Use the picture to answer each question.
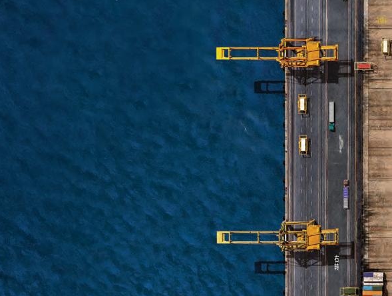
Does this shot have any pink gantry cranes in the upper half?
No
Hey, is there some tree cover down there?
No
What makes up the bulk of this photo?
water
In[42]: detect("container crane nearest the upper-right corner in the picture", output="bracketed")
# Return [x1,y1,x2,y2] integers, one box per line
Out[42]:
[216,36,337,69]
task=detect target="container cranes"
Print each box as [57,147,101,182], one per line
[216,36,337,69]
[216,218,337,252]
